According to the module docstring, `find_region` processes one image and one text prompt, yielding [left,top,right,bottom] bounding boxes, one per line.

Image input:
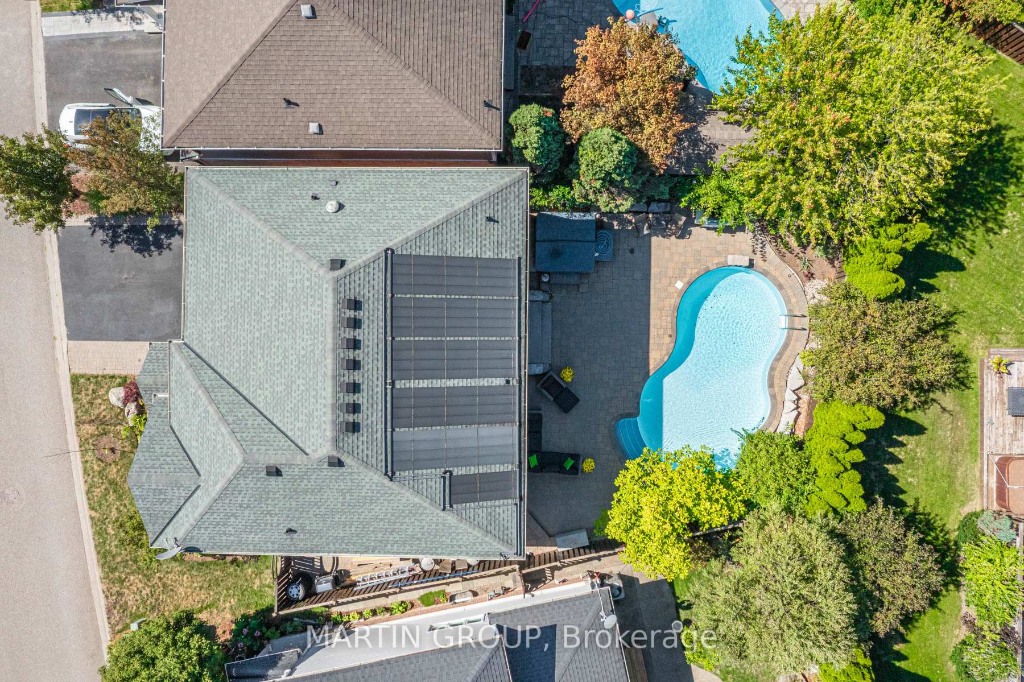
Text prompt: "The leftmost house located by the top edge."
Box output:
[115,0,504,168]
